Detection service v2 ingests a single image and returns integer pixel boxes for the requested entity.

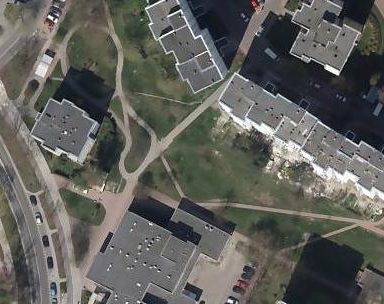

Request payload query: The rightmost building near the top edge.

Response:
[289,0,361,86]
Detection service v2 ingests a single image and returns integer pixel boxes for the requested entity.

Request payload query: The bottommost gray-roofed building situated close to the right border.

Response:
[362,267,384,297]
